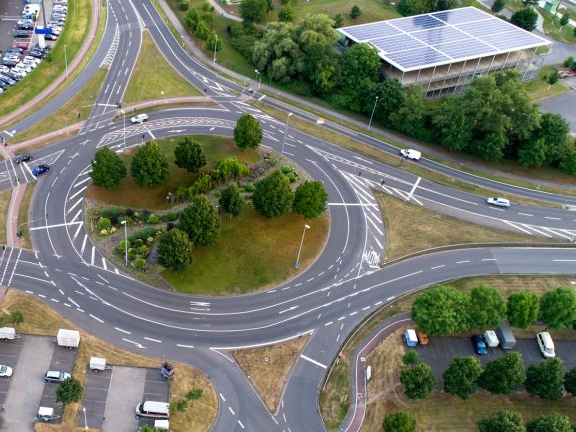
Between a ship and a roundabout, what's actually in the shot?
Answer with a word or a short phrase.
roundabout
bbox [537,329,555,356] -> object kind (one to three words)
vehicle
